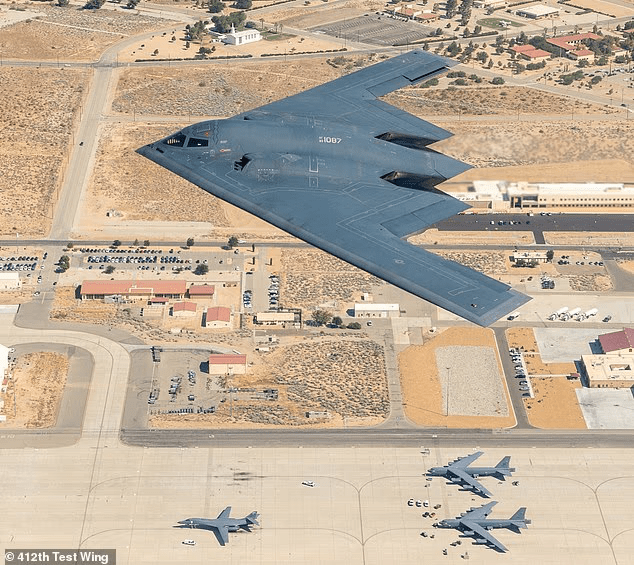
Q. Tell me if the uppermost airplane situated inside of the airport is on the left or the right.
right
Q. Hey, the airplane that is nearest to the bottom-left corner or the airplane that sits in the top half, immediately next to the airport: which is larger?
the airplane that sits in the top half, immediately next to the airport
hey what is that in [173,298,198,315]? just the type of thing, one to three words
building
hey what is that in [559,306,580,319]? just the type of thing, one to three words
vehicle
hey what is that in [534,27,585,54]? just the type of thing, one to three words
building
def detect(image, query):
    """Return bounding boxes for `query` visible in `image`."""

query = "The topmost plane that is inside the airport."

[428,449,518,497]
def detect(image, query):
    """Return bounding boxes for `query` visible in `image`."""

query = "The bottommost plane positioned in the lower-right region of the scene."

[435,499,529,551]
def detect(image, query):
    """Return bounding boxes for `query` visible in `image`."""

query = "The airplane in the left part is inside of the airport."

[178,504,261,544]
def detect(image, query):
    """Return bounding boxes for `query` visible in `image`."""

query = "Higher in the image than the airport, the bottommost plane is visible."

[137,48,531,326]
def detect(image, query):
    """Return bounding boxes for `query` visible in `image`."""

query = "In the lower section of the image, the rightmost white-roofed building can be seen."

[580,353,634,387]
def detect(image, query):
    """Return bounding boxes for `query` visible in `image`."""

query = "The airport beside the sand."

[0,303,634,565]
